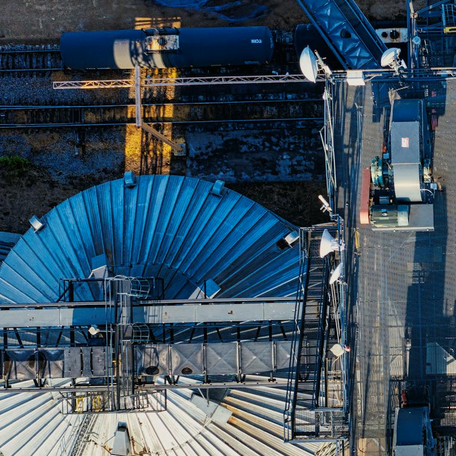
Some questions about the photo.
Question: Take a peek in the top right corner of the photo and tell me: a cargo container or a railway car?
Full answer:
What appears in the top right corner of the photo is a railway car.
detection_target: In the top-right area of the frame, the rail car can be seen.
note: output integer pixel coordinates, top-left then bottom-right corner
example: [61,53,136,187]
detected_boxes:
[291,19,454,67]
